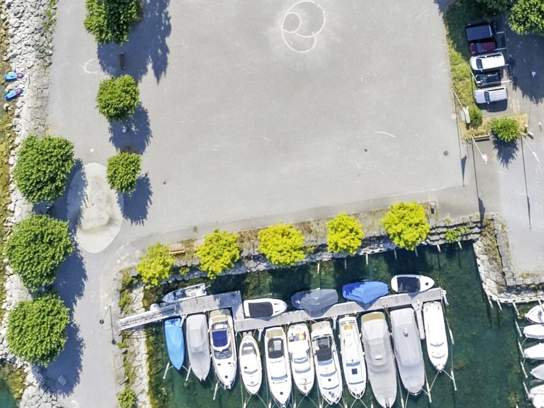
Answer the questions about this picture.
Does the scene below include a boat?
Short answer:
Yes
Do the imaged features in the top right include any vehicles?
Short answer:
Yes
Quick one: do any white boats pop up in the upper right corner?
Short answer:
No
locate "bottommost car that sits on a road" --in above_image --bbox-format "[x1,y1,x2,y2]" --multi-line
[473,86,509,105]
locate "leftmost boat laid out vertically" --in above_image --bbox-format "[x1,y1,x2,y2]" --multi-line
[161,315,185,370]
